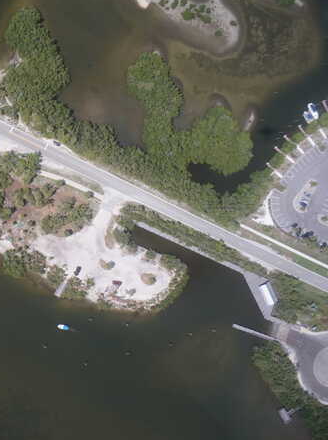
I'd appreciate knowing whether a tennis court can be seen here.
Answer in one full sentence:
No, there's no tennis court here.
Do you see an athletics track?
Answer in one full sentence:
No, I can see no athletics track in this picture.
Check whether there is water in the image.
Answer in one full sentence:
Yes, water shows up in the scene.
